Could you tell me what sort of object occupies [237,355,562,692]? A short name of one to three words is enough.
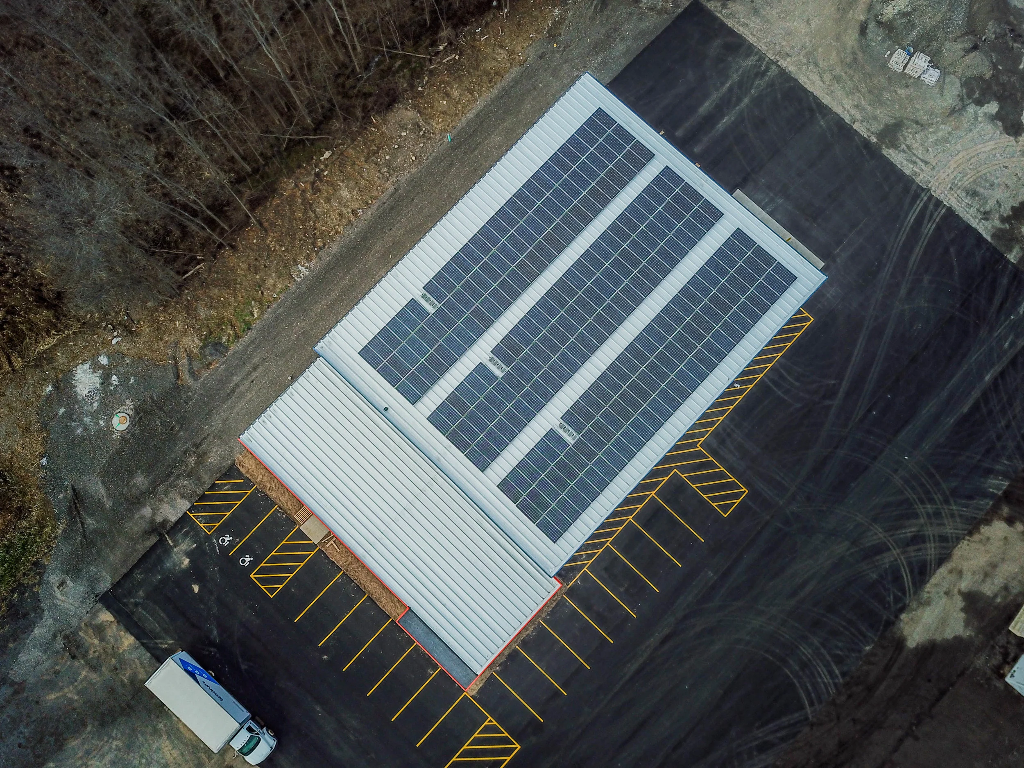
building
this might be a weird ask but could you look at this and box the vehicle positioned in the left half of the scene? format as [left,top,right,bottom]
[146,646,278,764]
